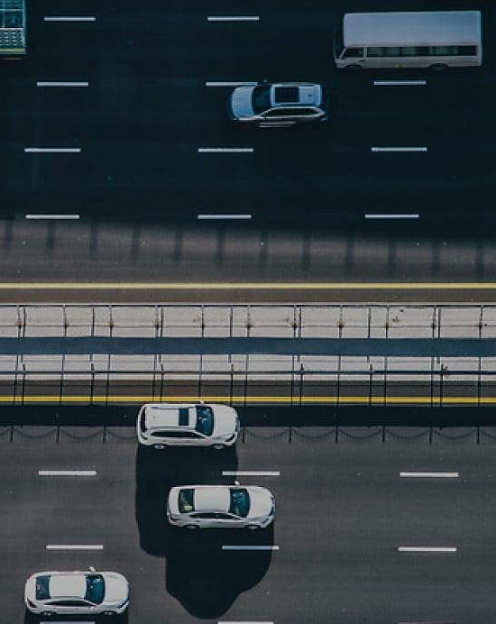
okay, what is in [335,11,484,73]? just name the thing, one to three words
vehicle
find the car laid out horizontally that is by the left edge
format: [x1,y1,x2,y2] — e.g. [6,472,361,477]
[24,566,131,618]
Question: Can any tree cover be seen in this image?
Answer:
No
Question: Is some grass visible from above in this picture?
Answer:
No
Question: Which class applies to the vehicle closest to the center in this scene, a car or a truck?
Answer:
car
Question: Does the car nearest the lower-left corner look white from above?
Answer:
Yes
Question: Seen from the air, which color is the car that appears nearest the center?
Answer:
white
